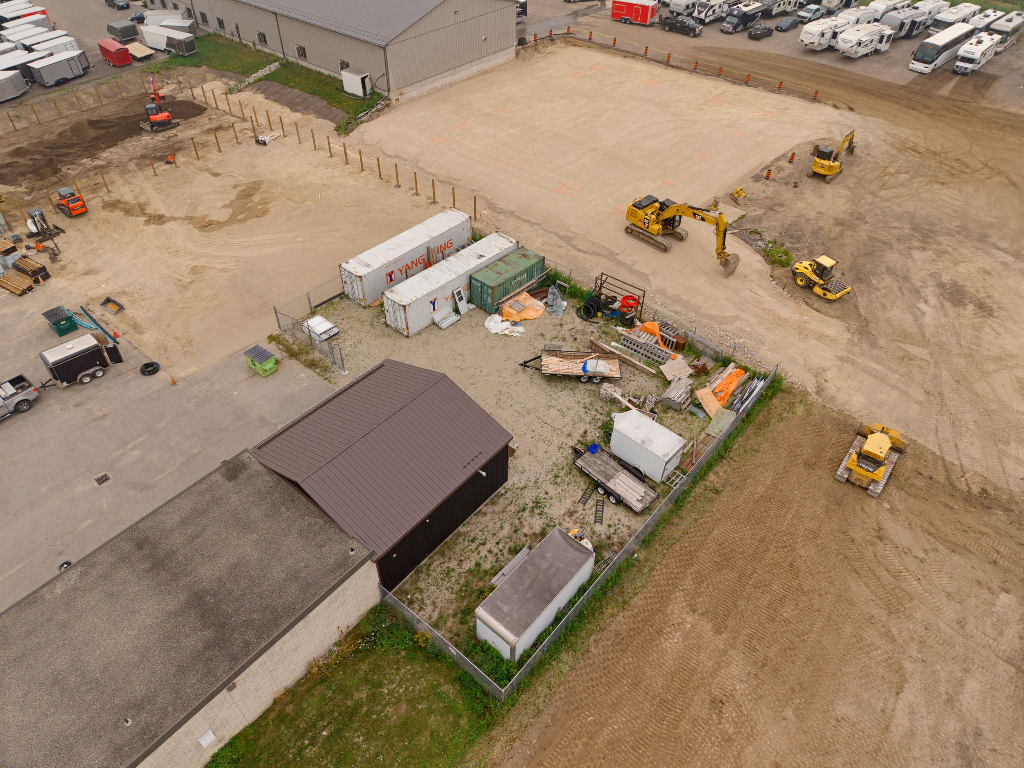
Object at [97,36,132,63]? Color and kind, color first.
red trailer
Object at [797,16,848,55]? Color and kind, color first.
white trailer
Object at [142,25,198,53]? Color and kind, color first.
white trailer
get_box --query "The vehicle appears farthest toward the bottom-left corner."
[0,376,42,417]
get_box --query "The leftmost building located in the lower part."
[0,446,379,768]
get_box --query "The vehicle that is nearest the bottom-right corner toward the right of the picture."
[836,422,910,494]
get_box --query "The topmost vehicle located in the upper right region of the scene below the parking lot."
[809,125,854,183]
